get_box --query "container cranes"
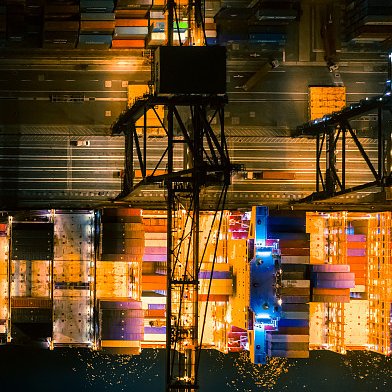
[294,56,392,201]
[107,0,242,392]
